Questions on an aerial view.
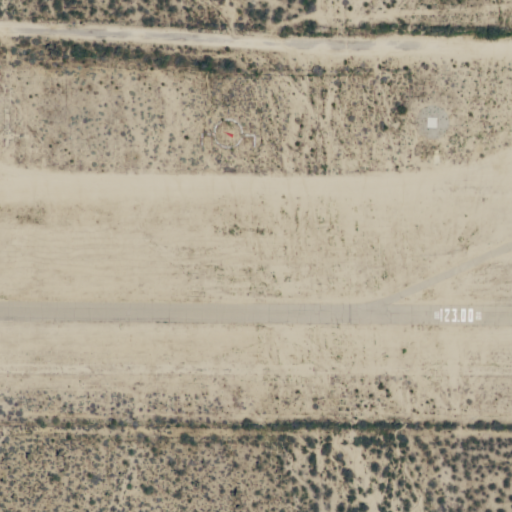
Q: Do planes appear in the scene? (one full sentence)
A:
No, no plane is visible in the view.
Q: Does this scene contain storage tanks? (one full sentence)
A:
No, there is no storage tank in the image.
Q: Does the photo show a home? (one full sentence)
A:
No, there appears to be no home in this shot.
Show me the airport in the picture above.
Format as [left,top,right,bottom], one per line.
[0,244,512,326]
